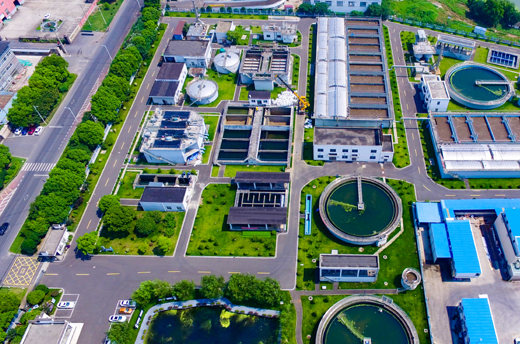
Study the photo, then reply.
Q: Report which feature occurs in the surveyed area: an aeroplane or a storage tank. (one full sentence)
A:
The image shows a storage tank.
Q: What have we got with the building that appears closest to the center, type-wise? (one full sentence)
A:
In the photo, the building that appears closest to the center shows up as a house.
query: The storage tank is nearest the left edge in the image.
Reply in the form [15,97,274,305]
[187,72,221,109]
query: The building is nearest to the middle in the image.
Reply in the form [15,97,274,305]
[228,172,290,230]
